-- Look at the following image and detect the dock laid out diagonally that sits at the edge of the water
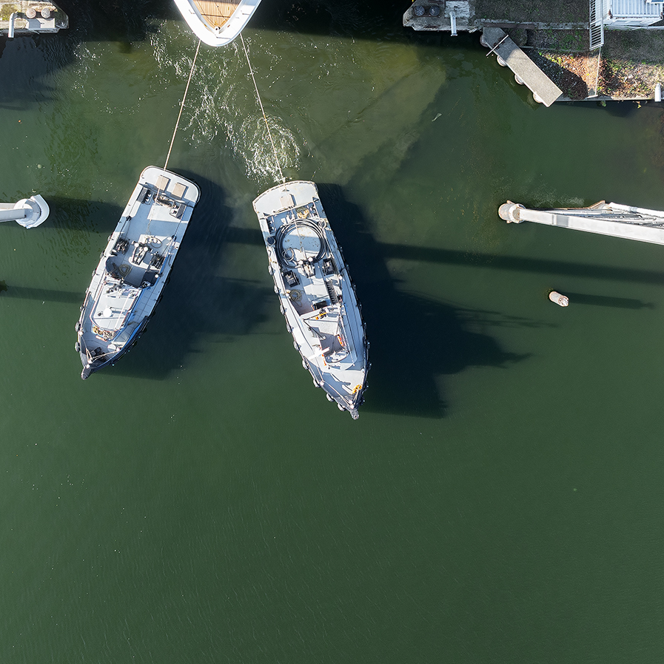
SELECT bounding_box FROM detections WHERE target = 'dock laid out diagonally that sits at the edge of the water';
[477,29,562,107]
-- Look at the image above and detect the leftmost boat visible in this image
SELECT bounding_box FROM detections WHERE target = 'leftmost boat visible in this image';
[74,164,203,381]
